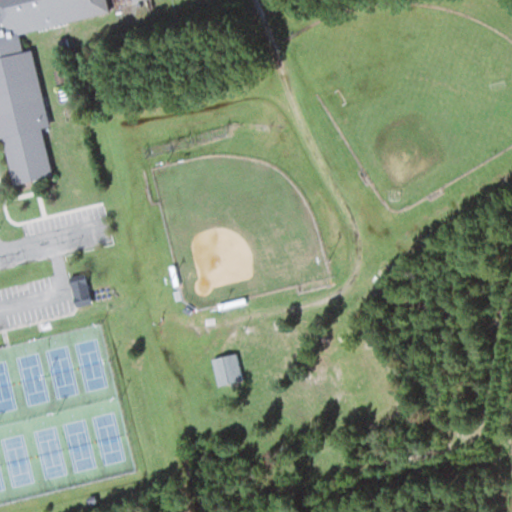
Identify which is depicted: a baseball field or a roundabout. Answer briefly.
baseball field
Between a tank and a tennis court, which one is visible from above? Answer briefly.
tennis court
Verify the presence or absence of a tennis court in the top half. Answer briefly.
No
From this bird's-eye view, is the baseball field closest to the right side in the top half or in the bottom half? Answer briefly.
top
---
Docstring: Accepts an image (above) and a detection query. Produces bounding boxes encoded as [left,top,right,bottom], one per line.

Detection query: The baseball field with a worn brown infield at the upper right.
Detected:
[300,2,512,211]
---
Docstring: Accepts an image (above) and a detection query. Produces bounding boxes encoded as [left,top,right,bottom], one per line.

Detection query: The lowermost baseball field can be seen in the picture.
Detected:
[152,154,332,310]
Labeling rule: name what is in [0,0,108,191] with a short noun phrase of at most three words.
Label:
building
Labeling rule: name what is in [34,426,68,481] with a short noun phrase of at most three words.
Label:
tennis court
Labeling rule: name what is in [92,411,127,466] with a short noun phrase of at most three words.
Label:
tennis court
